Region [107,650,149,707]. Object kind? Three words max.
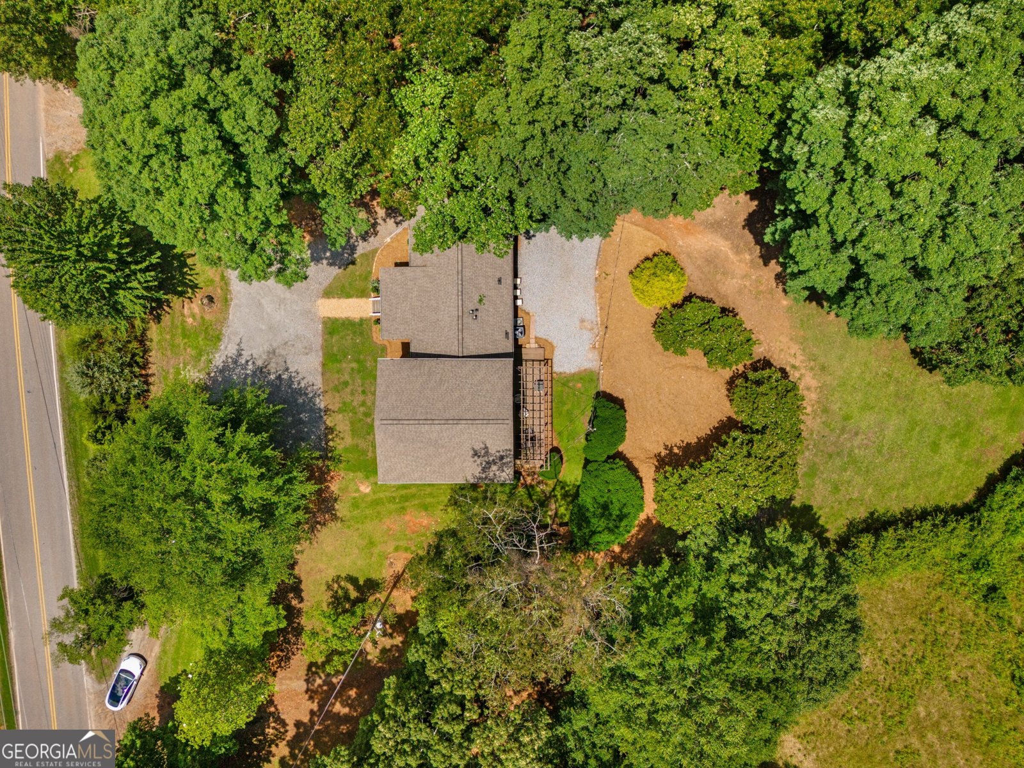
car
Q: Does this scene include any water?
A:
No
